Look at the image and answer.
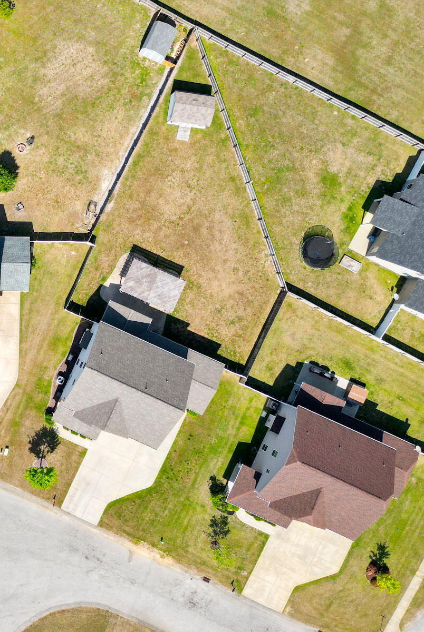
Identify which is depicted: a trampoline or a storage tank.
trampoline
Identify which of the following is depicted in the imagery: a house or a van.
house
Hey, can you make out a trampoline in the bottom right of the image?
No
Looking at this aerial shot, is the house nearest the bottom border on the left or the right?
right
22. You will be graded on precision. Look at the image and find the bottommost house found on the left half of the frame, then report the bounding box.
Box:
[51,300,225,451]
